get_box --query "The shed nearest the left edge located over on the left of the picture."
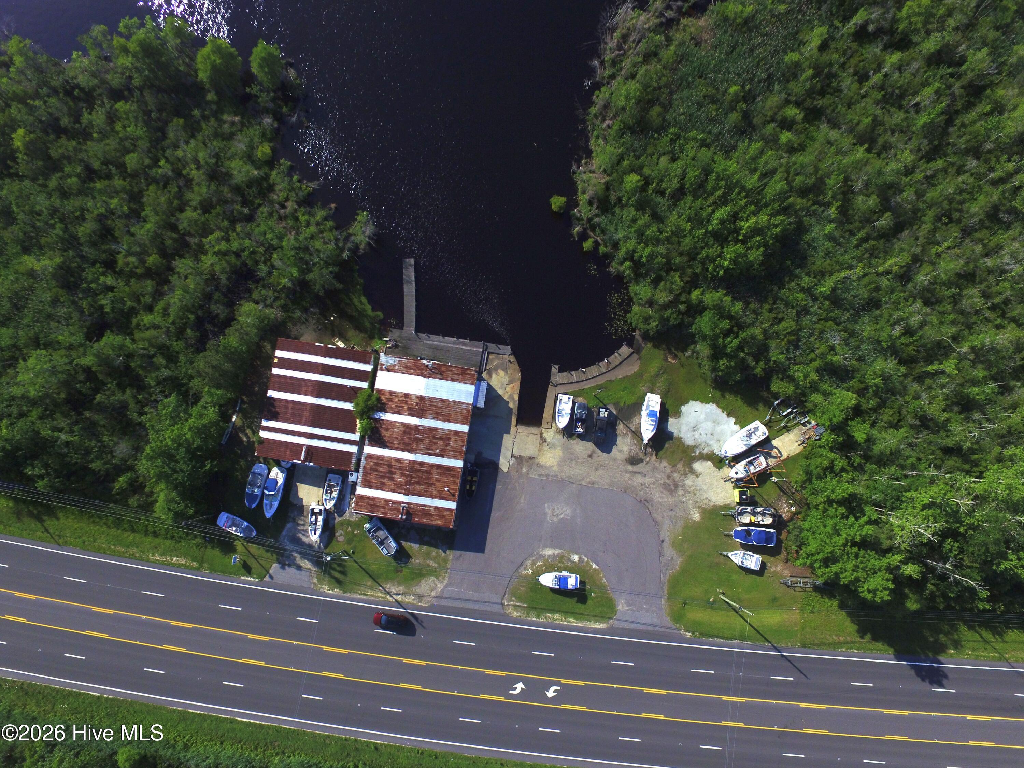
[256,338,374,471]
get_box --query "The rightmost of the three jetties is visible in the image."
[549,342,633,386]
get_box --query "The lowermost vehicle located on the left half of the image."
[374,612,406,628]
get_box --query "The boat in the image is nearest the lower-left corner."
[216,512,256,537]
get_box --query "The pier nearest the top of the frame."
[403,259,417,328]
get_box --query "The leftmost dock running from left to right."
[385,329,513,377]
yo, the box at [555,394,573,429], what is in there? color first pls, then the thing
white boat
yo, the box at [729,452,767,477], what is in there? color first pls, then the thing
white boat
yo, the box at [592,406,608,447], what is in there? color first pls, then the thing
black vehicle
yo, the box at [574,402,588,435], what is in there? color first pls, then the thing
black vehicle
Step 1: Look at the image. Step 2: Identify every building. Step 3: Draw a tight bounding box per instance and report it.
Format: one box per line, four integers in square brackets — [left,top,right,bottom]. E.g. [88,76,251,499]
[256,338,374,471]
[352,355,477,529]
